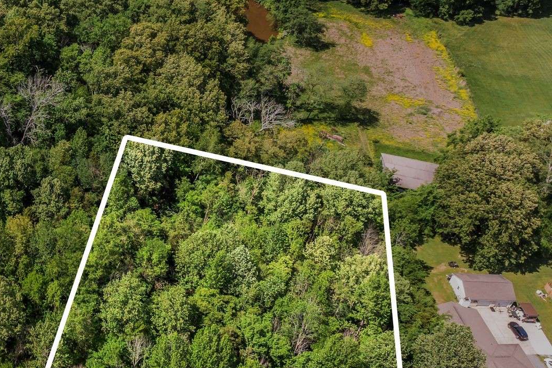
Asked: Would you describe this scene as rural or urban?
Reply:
rural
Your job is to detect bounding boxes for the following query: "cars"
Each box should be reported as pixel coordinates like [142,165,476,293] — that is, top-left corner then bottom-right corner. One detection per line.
[542,357,552,368]
[506,322,530,342]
